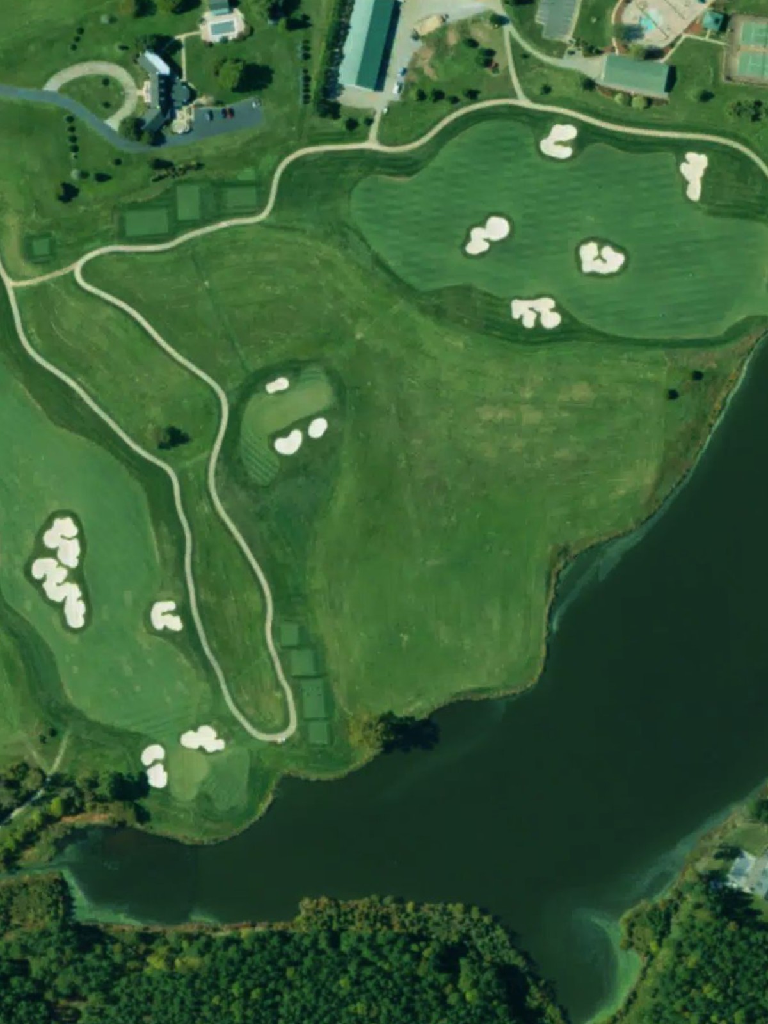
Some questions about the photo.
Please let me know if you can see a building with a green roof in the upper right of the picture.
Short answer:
Yes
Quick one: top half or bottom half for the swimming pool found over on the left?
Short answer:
top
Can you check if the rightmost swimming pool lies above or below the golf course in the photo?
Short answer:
above it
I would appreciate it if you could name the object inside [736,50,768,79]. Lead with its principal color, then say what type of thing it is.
green tennis court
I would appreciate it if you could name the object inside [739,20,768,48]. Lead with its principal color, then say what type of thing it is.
green tennis court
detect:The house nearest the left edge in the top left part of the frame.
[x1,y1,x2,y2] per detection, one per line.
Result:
[137,51,190,132]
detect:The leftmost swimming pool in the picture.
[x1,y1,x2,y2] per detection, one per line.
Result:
[201,9,244,43]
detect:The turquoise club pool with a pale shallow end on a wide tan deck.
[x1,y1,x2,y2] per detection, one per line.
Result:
[623,0,710,47]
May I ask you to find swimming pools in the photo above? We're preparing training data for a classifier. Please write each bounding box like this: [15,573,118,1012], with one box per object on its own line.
[201,9,244,43]
[623,0,710,47]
